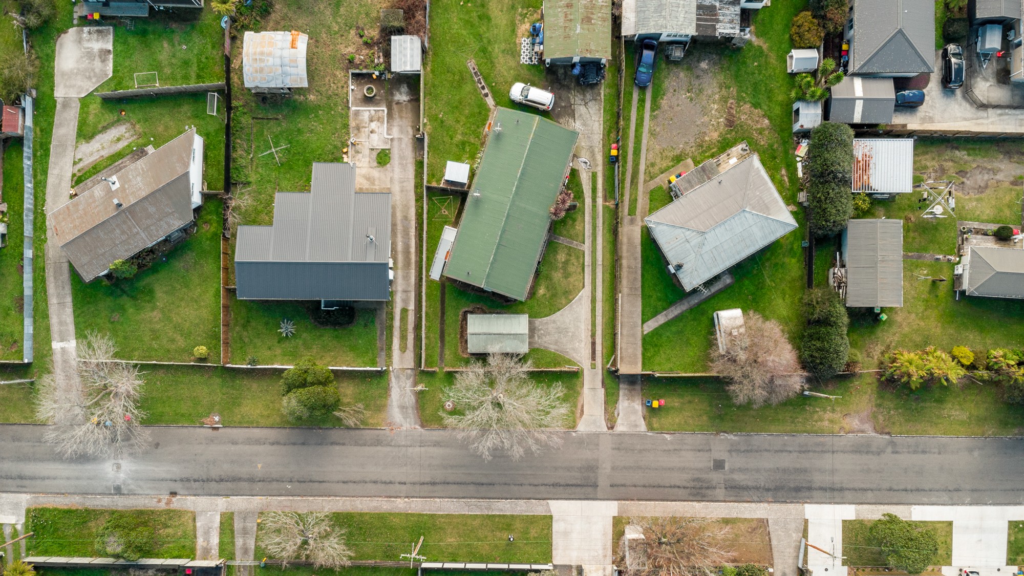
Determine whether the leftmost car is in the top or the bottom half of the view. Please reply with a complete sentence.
It is in the top half that the leftmost car appears.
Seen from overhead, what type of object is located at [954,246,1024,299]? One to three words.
house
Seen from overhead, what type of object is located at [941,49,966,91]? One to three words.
car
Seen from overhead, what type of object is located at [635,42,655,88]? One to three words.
car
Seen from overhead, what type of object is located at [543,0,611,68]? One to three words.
building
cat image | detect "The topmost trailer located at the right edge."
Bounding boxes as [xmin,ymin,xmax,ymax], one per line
[979,24,1006,68]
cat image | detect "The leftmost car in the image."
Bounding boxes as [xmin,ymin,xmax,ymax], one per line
[511,84,555,111]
